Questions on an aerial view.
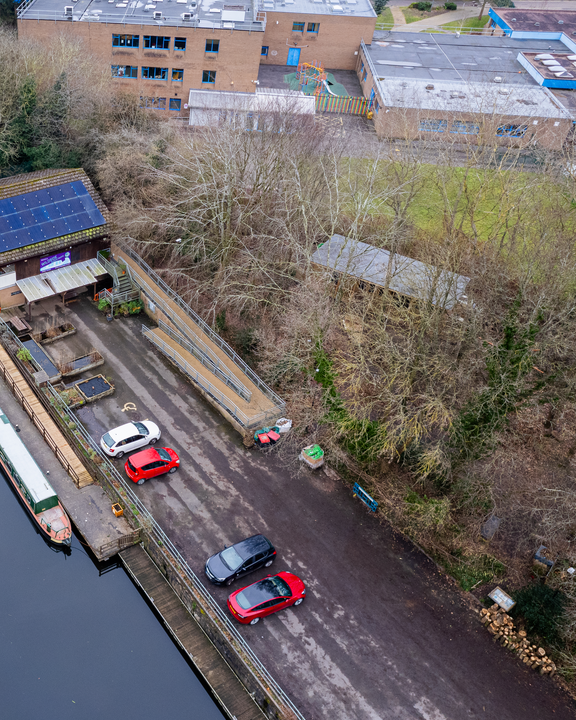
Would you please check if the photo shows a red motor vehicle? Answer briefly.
Yes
